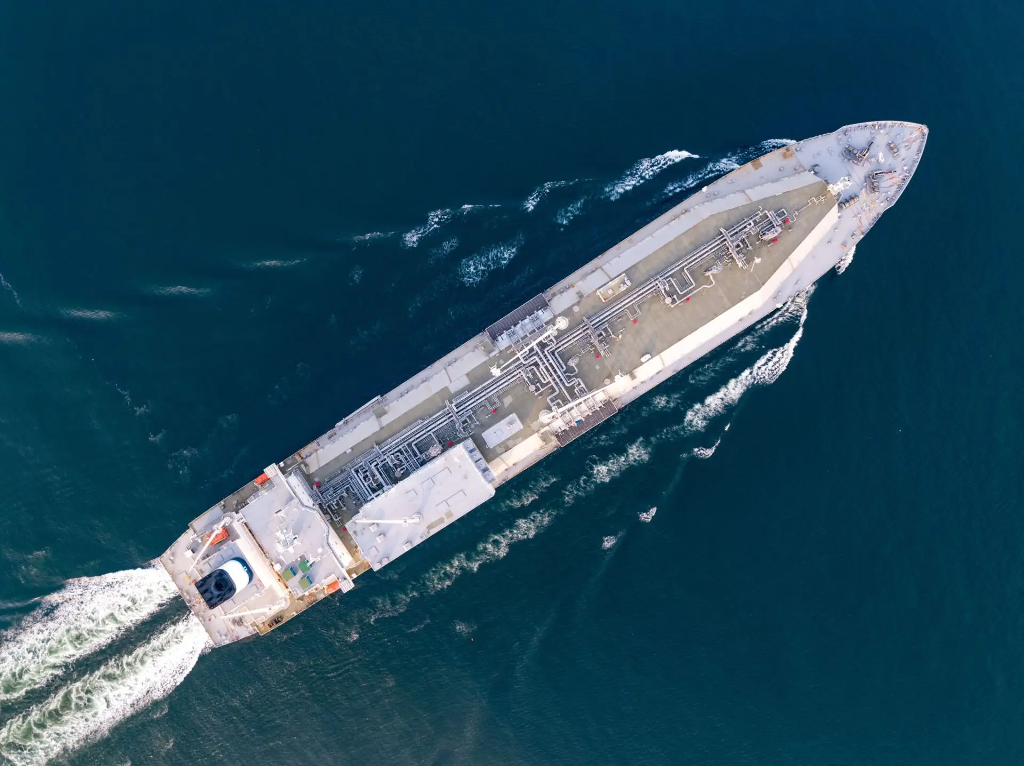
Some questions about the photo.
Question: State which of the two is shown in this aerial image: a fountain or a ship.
ship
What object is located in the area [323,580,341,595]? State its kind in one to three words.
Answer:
boat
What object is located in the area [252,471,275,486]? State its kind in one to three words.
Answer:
boat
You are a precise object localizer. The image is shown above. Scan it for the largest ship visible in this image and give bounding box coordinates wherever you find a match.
[159,118,931,649]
